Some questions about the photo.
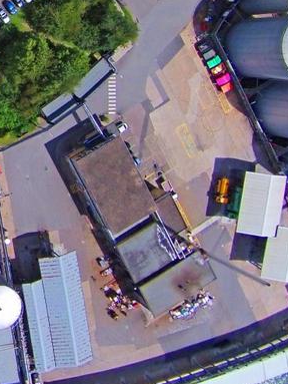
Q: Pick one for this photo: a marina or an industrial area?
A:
industrial area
